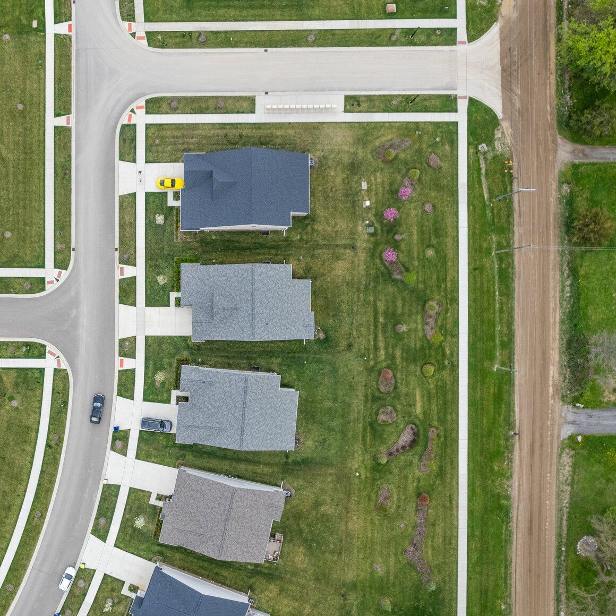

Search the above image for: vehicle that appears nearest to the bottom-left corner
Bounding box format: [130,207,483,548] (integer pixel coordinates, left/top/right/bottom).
[58,565,78,593]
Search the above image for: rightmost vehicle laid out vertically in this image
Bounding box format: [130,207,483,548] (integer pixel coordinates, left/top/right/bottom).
[90,394,104,424]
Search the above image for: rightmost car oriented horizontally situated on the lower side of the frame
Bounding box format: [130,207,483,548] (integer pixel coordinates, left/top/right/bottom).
[140,418,172,432]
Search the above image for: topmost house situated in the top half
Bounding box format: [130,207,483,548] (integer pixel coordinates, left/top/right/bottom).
[179,148,310,236]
